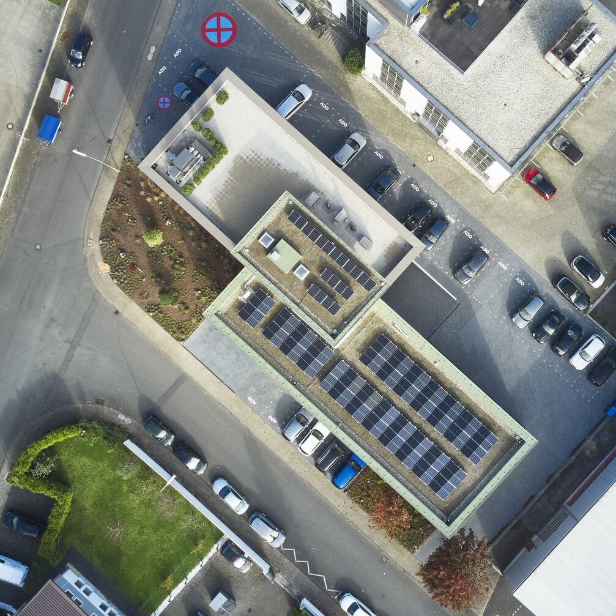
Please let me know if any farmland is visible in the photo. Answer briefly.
No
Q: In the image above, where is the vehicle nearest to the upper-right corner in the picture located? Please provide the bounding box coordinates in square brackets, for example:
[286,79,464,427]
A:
[550,134,584,168]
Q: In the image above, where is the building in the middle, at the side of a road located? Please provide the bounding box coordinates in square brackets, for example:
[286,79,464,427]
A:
[140,69,538,539]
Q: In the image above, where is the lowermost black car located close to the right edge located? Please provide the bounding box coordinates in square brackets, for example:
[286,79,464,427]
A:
[588,347,616,387]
